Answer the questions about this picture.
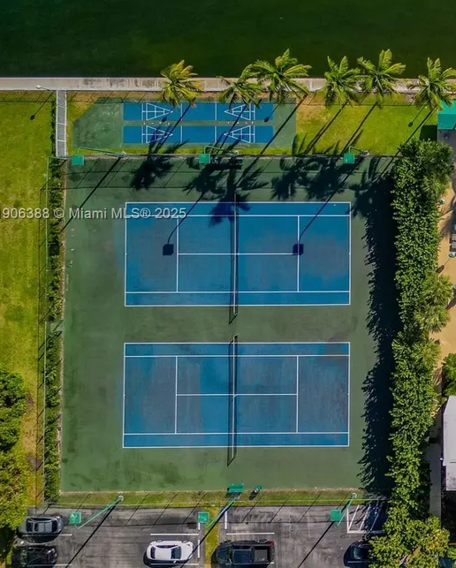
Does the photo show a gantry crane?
No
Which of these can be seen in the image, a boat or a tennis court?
tennis court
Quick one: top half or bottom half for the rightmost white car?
bottom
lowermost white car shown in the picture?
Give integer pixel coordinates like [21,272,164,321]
[148,539,197,563]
